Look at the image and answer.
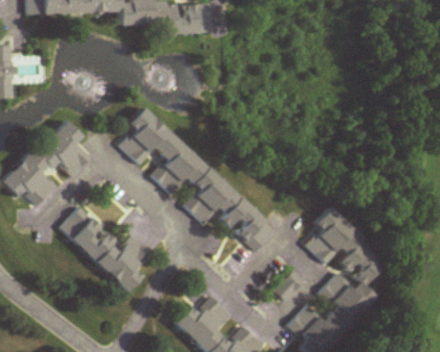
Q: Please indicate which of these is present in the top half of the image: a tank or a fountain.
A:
fountain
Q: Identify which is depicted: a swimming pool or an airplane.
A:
swimming pool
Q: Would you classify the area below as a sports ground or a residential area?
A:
residential area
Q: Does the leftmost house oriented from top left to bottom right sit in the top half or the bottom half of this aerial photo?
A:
bottom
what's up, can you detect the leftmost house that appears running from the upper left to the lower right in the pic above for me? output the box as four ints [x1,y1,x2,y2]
[60,209,147,292]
